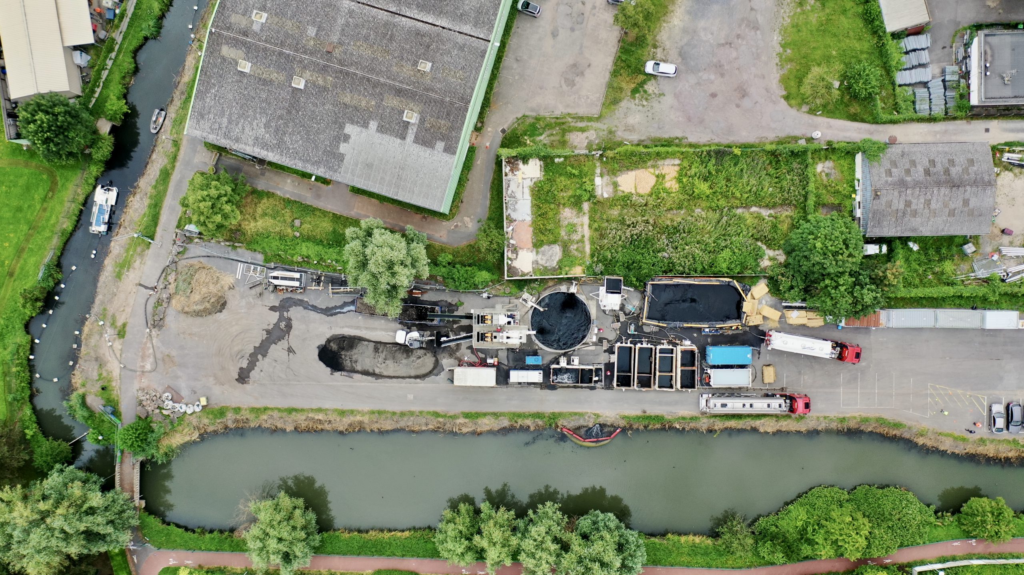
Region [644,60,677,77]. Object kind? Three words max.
car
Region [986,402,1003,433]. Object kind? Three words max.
car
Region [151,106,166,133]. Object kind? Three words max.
boat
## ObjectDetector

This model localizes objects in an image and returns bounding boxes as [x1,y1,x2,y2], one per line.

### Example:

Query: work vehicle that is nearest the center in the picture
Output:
[397,330,435,349]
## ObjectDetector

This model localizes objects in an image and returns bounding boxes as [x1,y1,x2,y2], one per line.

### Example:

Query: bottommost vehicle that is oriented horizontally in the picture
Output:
[696,393,812,415]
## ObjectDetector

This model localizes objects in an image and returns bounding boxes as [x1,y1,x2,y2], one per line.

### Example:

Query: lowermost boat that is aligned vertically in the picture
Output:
[89,182,119,235]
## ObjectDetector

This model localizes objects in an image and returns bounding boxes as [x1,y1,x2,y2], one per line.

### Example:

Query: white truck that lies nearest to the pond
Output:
[760,329,863,364]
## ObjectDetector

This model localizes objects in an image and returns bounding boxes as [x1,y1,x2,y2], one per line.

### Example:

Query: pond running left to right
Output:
[641,277,750,328]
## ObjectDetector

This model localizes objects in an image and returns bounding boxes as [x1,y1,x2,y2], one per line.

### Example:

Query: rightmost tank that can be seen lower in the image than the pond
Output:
[704,367,752,387]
